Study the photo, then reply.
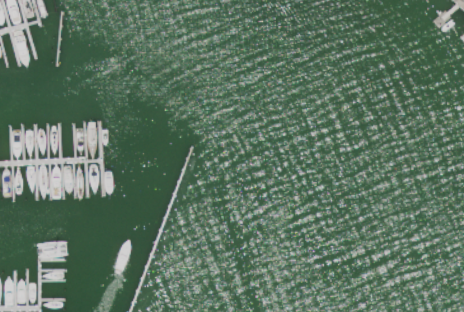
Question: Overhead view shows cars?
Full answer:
No, the picture doesn't show any car.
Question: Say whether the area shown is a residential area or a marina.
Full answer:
It's a marina.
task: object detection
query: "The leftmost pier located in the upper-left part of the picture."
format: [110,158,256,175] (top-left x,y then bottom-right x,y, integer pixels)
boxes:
[0,0,42,68]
